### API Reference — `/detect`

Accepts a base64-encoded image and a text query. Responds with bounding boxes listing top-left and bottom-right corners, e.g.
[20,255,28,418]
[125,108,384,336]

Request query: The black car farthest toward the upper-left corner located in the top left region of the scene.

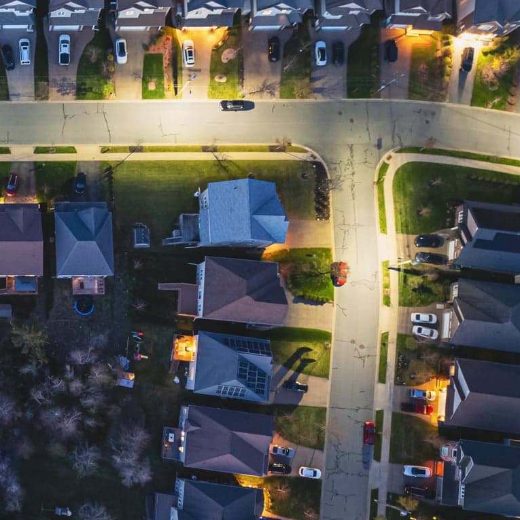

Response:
[1,45,14,72]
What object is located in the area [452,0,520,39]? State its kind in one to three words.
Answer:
house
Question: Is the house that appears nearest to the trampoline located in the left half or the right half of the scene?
left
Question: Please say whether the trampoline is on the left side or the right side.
left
